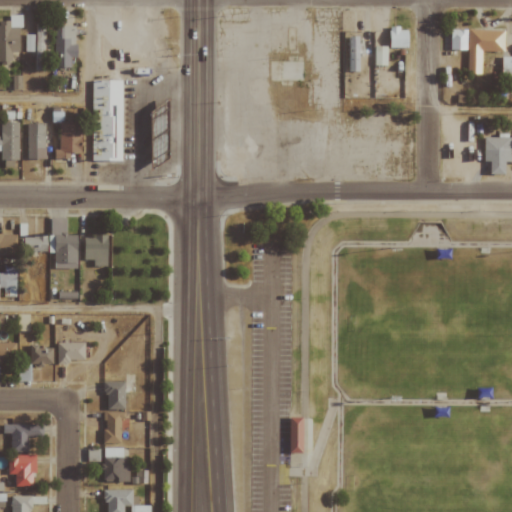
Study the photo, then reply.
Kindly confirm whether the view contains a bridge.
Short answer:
No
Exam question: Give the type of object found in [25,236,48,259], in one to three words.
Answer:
house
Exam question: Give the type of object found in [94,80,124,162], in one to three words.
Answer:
building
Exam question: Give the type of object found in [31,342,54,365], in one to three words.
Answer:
house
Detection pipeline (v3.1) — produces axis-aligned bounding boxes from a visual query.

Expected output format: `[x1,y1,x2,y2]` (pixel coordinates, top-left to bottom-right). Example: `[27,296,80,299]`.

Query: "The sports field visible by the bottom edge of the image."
[338,403,512,512]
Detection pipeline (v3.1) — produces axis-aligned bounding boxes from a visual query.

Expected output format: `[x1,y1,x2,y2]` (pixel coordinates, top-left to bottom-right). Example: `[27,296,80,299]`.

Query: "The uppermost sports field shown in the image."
[334,244,512,402]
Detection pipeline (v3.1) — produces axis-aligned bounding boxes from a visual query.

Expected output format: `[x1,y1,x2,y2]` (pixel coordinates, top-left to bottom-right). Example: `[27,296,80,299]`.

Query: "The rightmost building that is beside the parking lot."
[290,418,304,454]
